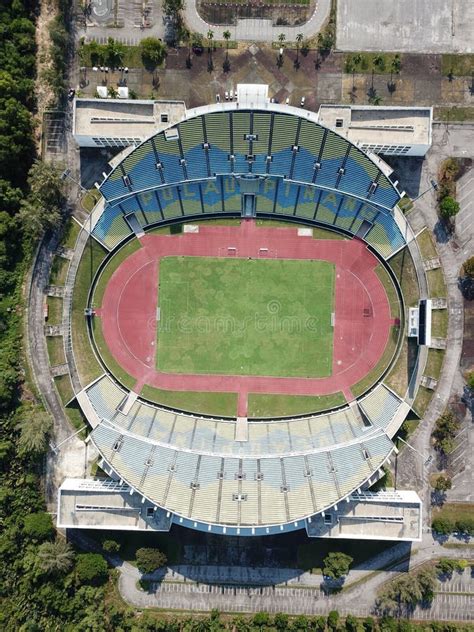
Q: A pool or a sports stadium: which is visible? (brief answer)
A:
sports stadium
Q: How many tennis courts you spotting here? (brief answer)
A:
0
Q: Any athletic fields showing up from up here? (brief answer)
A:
Yes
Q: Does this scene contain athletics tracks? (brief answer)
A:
Yes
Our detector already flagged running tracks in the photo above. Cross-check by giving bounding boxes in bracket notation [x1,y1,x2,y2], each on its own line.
[96,216,396,415]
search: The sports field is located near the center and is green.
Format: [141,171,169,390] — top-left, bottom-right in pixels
[155,256,336,380]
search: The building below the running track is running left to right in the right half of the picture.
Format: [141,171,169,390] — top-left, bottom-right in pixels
[305,491,422,539]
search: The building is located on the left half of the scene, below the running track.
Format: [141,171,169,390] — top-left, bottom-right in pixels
[60,483,176,531]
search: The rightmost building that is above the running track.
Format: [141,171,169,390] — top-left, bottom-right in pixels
[317,104,433,153]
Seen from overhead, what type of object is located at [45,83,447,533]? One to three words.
stadium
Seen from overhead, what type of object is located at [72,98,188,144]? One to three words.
building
